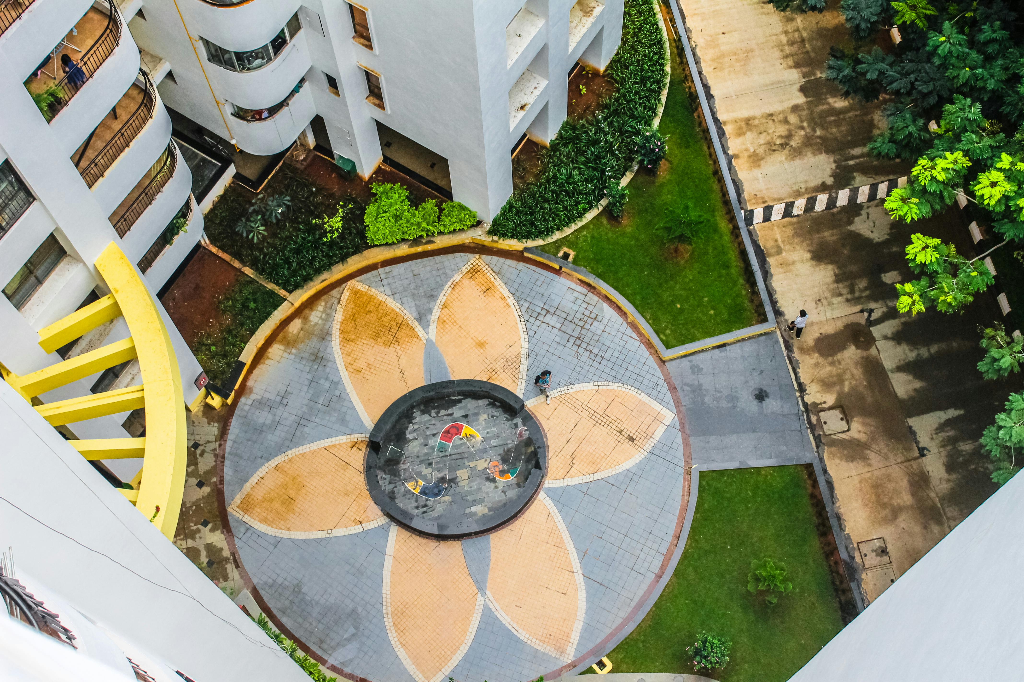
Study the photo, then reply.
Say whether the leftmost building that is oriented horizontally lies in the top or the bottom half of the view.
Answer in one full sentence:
Seen from above, the leftmost building that is oriented horizontally lies in the top half of the view.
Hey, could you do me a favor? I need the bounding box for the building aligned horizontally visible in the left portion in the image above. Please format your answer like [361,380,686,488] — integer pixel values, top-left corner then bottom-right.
[111,0,624,221]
